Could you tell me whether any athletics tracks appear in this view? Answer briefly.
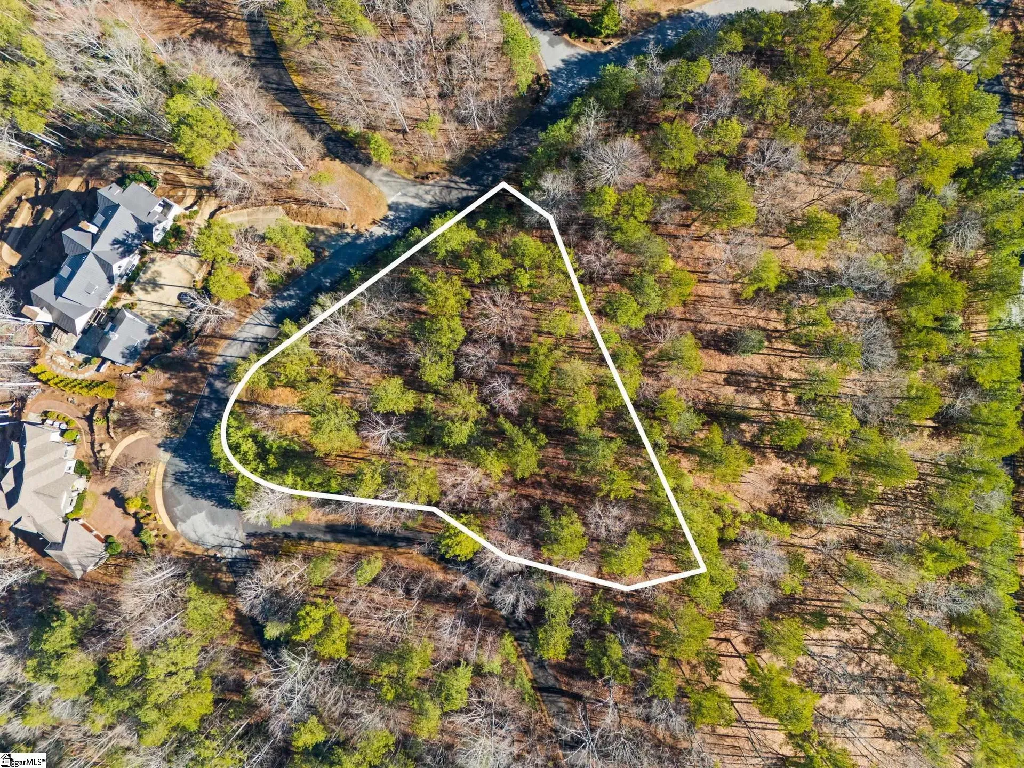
No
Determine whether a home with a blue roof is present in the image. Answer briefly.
No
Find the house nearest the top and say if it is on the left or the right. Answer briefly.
left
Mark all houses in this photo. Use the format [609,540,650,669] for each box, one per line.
[19,180,191,337]
[0,421,112,580]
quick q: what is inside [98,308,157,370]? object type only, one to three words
building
